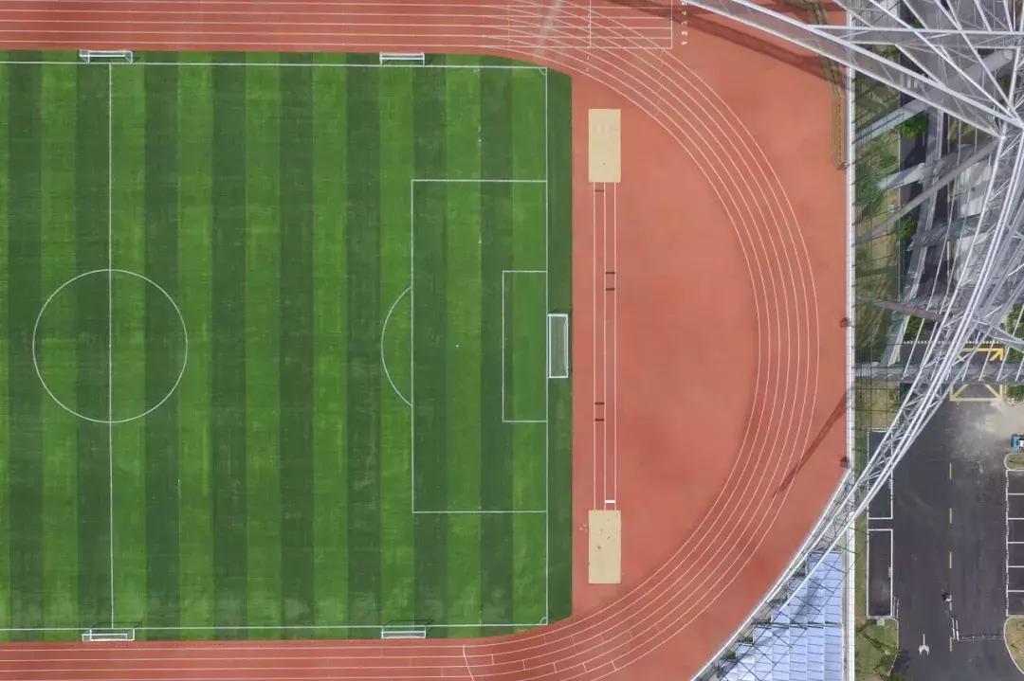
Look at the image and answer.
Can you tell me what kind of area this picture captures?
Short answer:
sports ground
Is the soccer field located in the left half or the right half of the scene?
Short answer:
left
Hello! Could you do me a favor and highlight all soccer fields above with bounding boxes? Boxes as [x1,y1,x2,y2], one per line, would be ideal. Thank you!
[0,49,571,641]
